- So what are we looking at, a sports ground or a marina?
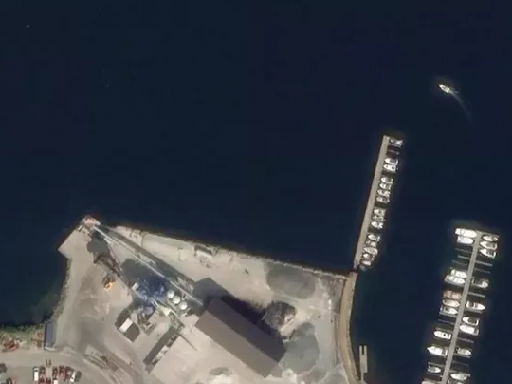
marina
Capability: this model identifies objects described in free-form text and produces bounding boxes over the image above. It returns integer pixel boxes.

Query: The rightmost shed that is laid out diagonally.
[195,296,288,377]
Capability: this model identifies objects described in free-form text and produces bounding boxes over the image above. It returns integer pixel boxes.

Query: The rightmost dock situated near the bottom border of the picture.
[423,230,500,384]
